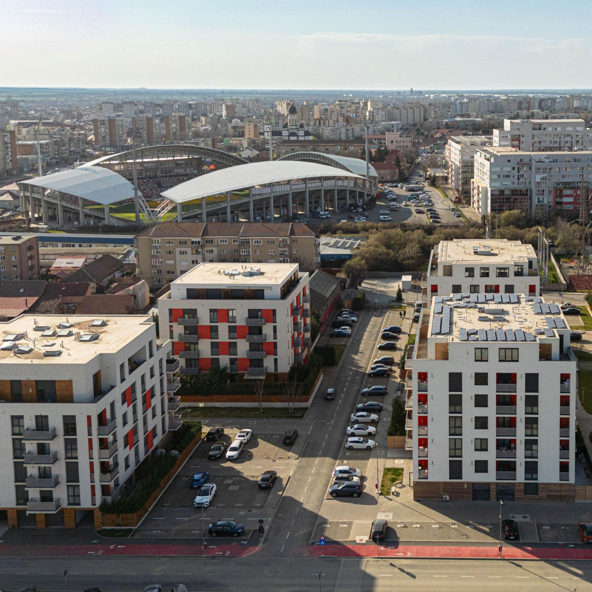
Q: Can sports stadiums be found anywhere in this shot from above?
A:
Yes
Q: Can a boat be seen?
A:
No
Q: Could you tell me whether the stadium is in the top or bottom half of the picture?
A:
top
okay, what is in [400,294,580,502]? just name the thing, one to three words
building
